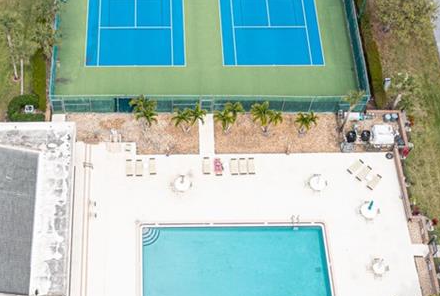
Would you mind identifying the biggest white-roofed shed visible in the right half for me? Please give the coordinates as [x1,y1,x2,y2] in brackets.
[371,126,398,147]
